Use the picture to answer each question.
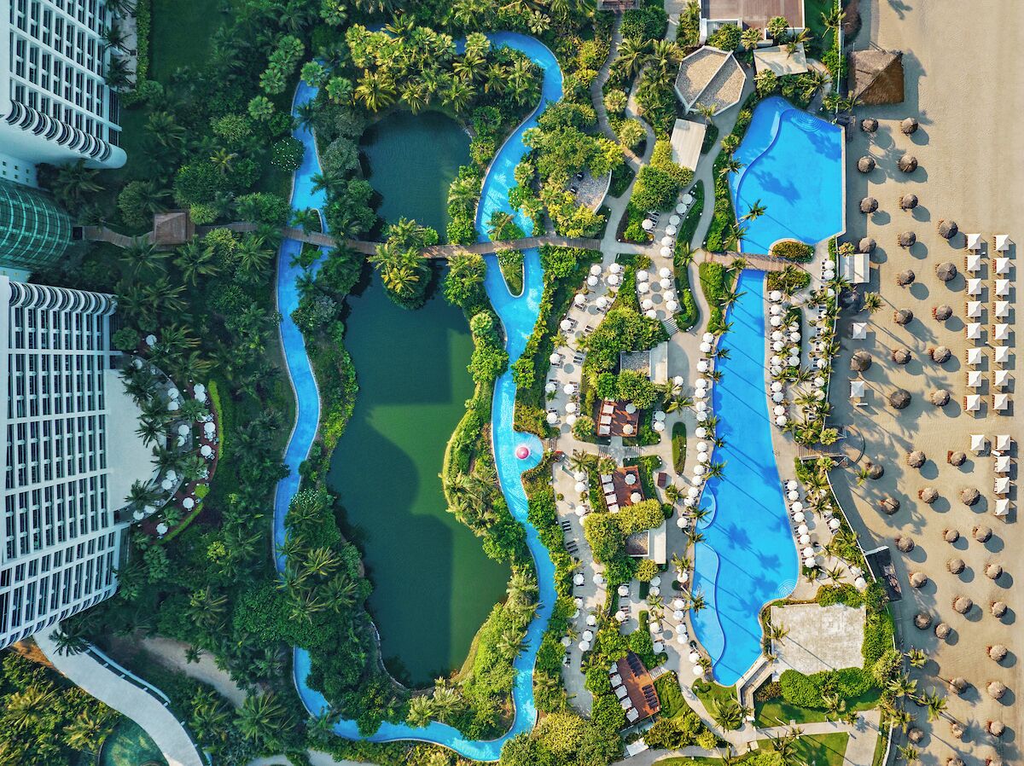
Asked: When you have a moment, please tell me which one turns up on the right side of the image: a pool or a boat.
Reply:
pool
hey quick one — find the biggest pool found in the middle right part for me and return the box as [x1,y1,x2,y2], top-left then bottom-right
[687,94,845,688]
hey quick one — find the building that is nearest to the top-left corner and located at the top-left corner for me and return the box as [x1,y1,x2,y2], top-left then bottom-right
[0,0,122,167]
